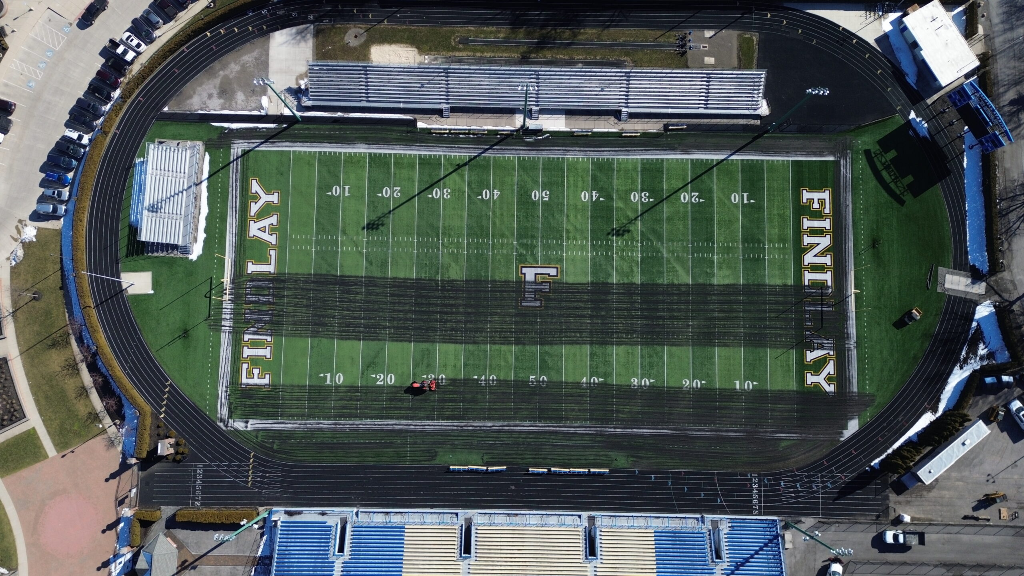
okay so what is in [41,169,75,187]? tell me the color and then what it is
blue car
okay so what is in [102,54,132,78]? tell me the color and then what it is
black car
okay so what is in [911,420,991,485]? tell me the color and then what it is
white trailer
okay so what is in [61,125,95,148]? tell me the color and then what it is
white car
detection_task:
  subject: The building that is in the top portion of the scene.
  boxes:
[896,0,981,91]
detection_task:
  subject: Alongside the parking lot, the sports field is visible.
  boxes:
[119,115,953,472]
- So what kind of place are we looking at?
sports ground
